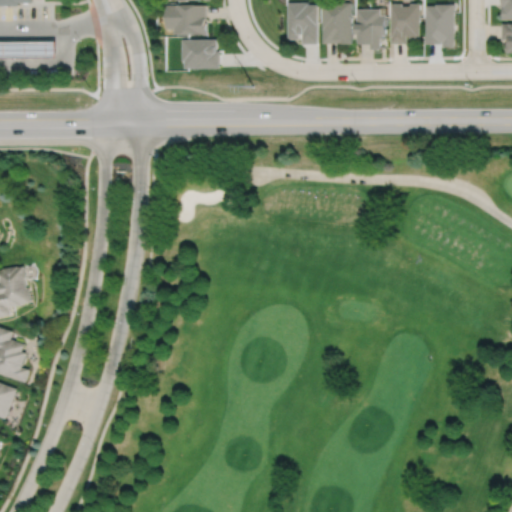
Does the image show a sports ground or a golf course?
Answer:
golf course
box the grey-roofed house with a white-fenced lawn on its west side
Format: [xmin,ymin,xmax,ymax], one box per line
[182,39,222,70]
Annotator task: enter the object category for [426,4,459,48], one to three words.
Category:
house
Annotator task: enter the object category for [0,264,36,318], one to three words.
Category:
house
